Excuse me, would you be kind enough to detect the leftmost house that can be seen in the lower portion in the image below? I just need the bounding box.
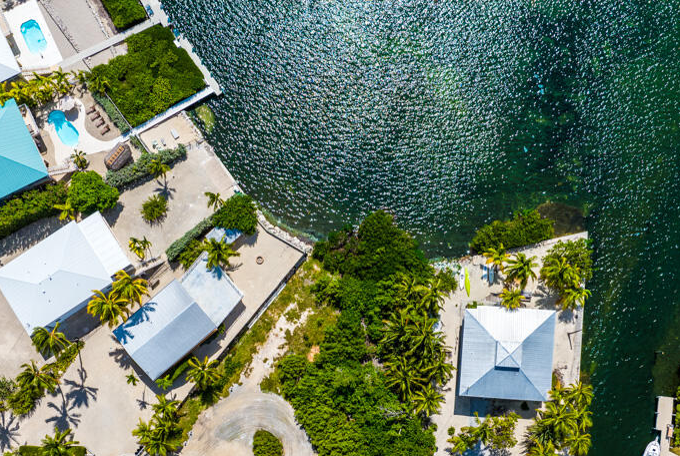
[0,213,135,336]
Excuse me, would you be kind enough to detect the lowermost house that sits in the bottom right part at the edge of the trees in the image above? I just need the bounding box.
[458,309,557,401]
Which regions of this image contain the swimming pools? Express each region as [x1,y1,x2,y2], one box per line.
[1,0,63,66]
[36,96,120,167]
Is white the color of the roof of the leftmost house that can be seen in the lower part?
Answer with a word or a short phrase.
Yes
